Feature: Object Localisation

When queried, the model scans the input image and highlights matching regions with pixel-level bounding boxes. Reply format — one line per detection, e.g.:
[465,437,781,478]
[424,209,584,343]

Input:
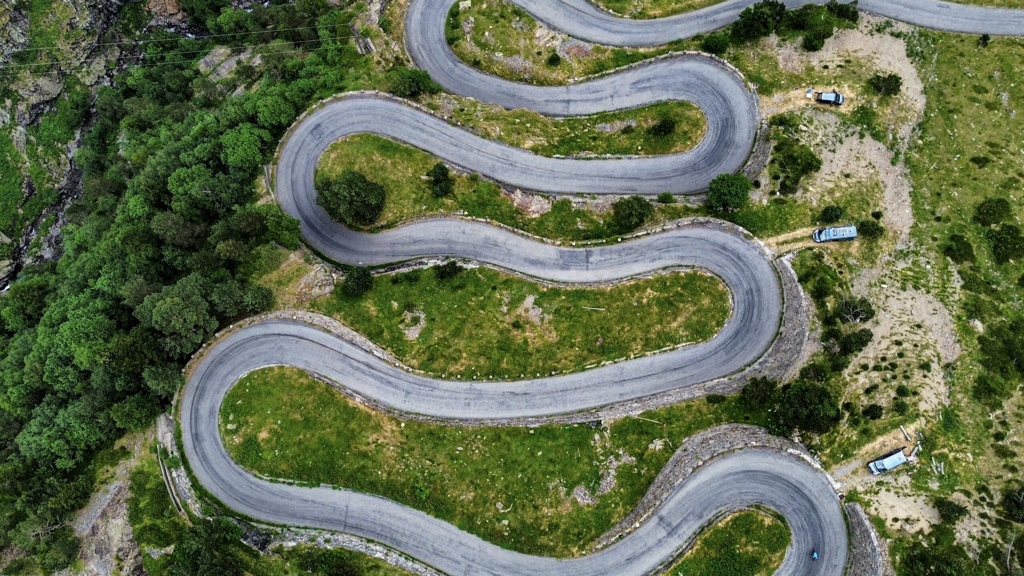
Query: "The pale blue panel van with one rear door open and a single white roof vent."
[864,445,913,476]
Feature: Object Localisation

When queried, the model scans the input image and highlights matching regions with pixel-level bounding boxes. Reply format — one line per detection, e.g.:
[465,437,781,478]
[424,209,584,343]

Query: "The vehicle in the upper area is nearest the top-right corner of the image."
[814,87,845,107]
